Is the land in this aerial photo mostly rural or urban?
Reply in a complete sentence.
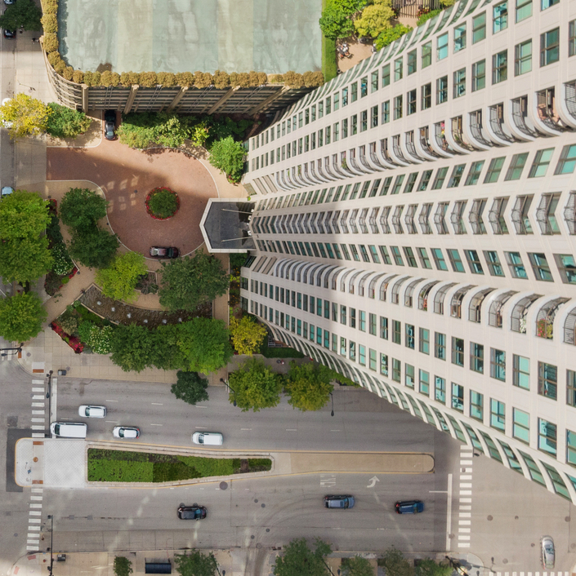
The land in this view is best described as urban.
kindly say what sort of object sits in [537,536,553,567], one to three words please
car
